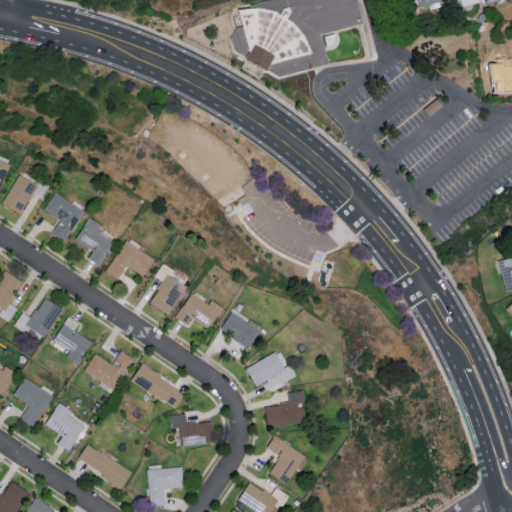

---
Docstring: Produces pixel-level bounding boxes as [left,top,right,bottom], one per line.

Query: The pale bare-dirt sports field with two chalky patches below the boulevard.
[148,112,252,207]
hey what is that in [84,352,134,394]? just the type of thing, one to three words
house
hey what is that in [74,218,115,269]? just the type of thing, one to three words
house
